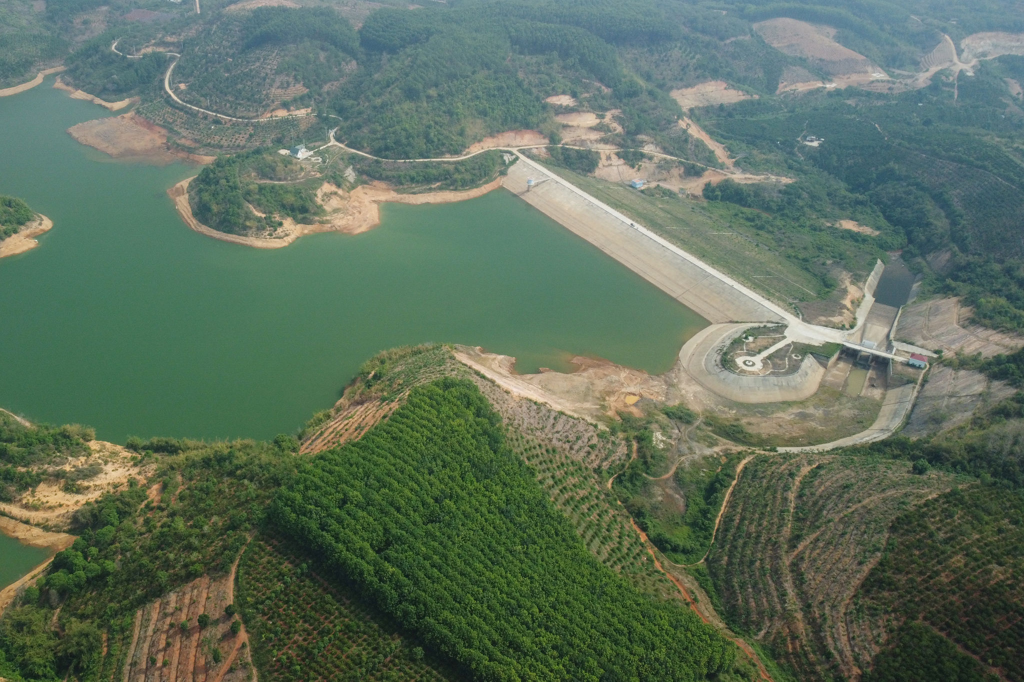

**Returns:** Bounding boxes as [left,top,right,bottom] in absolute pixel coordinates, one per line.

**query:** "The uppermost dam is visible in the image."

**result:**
[502,157,816,324]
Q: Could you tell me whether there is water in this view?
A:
Yes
